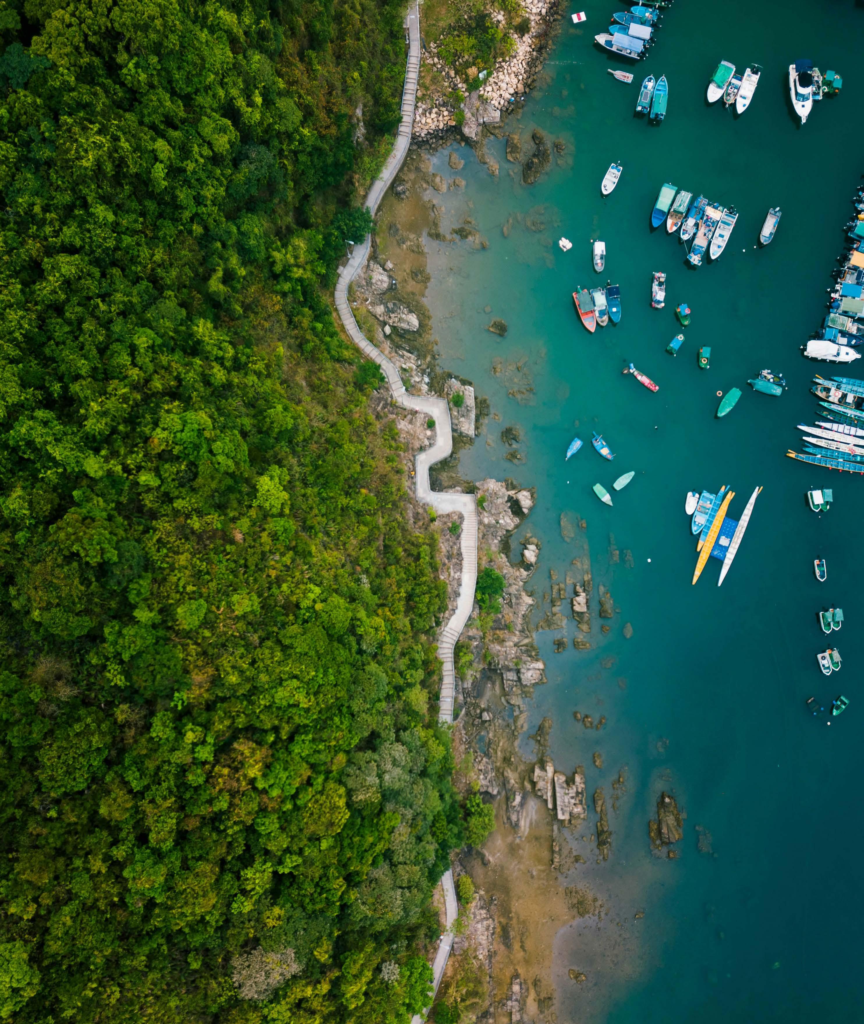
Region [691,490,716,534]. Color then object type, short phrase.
blue boat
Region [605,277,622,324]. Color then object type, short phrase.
blue boat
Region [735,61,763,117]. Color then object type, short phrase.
white boat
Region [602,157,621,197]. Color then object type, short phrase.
white boat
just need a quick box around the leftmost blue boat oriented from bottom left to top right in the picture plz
[566,439,582,460]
